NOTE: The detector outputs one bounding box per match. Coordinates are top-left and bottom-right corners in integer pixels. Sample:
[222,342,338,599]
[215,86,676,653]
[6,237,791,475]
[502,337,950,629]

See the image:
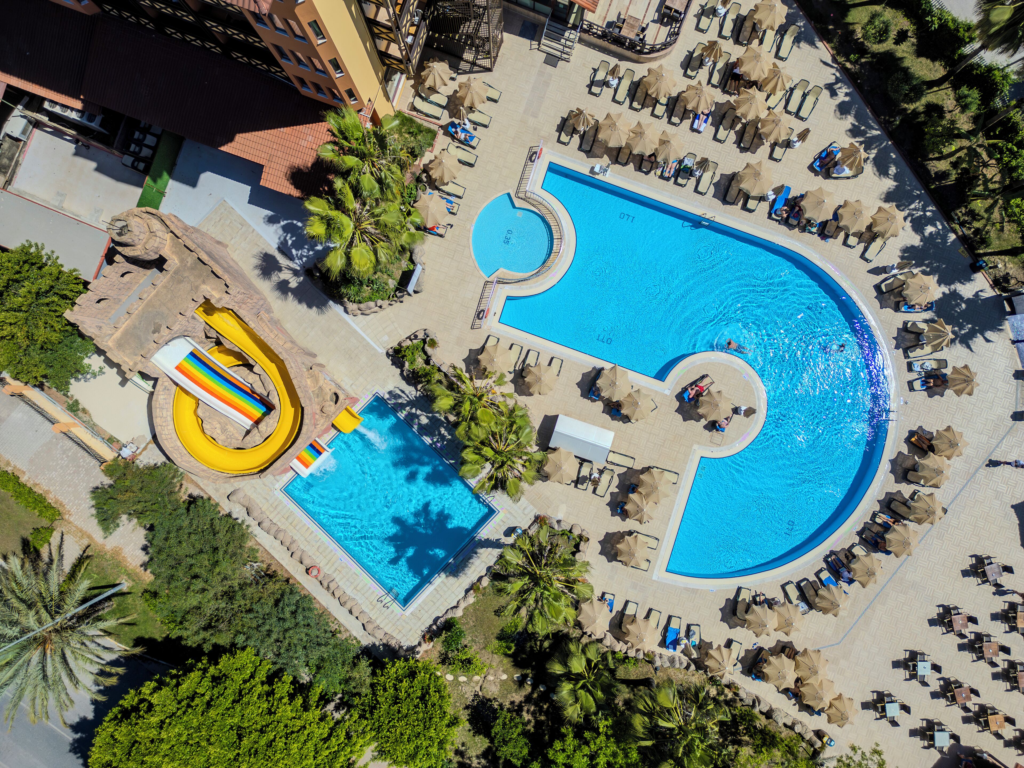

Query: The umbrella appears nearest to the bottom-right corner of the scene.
[824,696,861,735]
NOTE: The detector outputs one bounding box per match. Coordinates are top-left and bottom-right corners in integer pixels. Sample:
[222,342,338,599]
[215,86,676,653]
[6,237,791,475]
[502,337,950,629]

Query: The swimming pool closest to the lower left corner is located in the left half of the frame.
[283,395,497,607]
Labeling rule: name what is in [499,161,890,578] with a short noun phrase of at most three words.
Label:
swimming pool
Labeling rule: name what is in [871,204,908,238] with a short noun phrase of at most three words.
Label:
umbrella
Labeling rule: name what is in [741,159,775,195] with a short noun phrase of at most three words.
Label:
umbrella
